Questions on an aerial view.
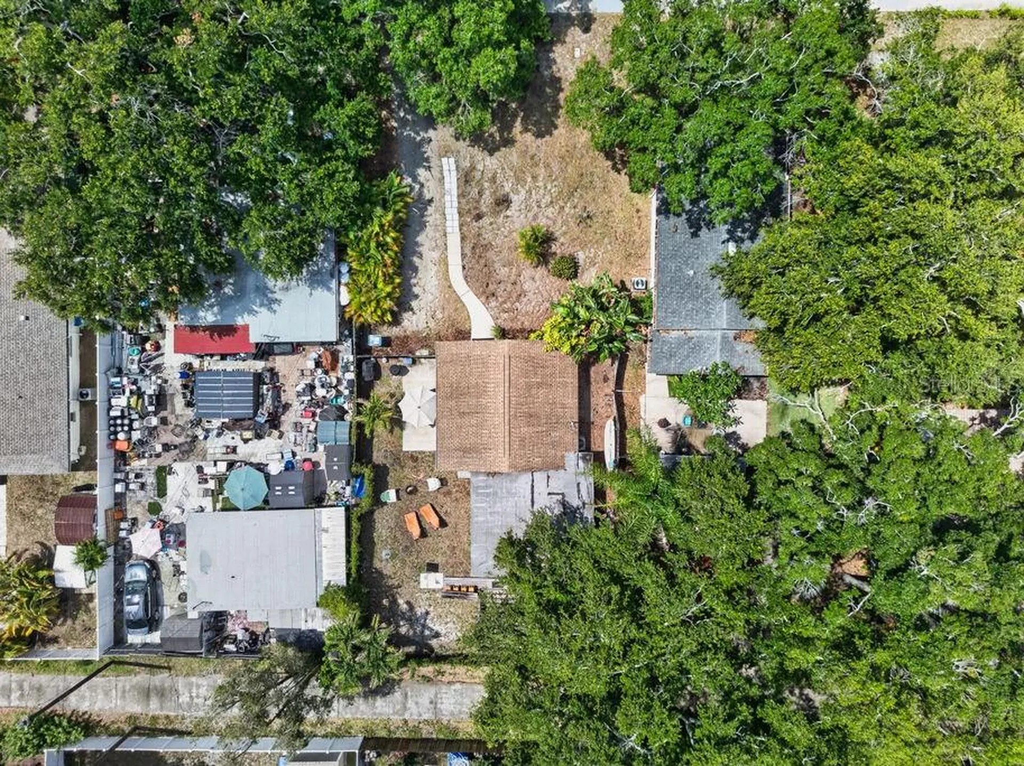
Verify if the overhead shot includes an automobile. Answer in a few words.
Yes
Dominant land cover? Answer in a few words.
trees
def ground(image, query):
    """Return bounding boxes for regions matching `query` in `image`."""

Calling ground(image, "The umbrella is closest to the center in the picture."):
[399,386,434,428]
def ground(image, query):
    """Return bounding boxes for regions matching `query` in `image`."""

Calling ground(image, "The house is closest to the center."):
[434,341,580,473]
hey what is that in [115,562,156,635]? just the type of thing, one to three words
car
